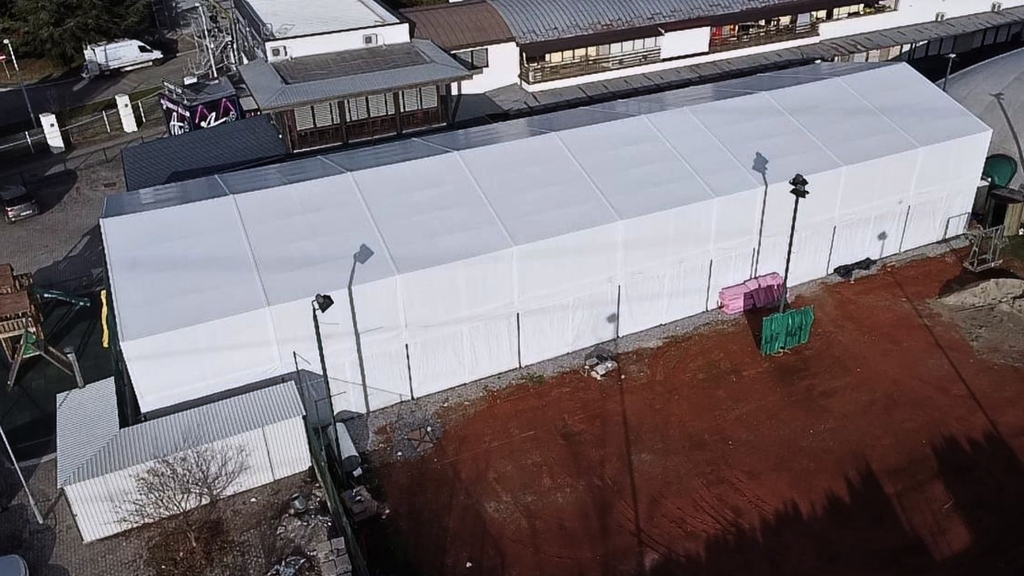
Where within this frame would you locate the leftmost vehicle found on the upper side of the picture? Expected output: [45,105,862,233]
[0,176,38,216]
